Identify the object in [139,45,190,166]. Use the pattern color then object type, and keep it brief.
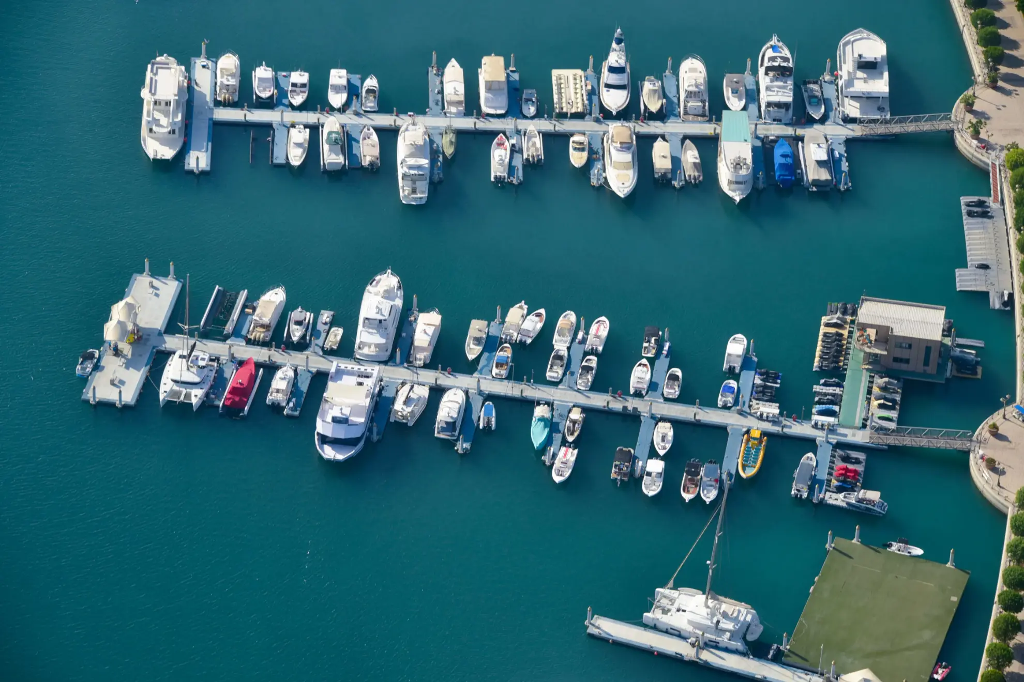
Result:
white vessel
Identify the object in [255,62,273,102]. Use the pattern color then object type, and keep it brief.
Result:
white boat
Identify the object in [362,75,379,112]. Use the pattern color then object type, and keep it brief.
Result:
white boat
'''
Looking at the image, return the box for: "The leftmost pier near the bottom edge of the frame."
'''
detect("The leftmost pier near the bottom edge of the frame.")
[587,615,696,663]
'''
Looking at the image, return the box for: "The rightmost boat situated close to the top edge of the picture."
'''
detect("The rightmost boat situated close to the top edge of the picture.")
[836,26,888,123]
